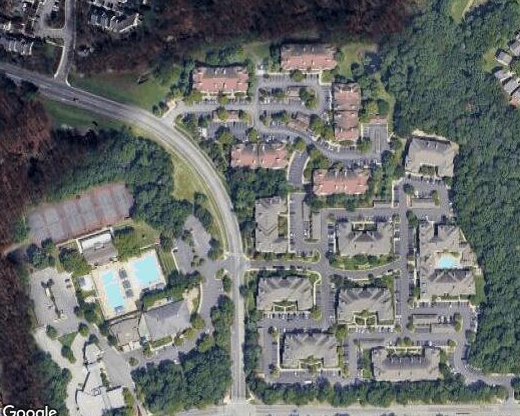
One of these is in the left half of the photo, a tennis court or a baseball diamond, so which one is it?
tennis court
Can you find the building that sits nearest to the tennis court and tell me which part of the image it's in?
left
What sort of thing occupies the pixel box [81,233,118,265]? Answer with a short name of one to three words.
building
